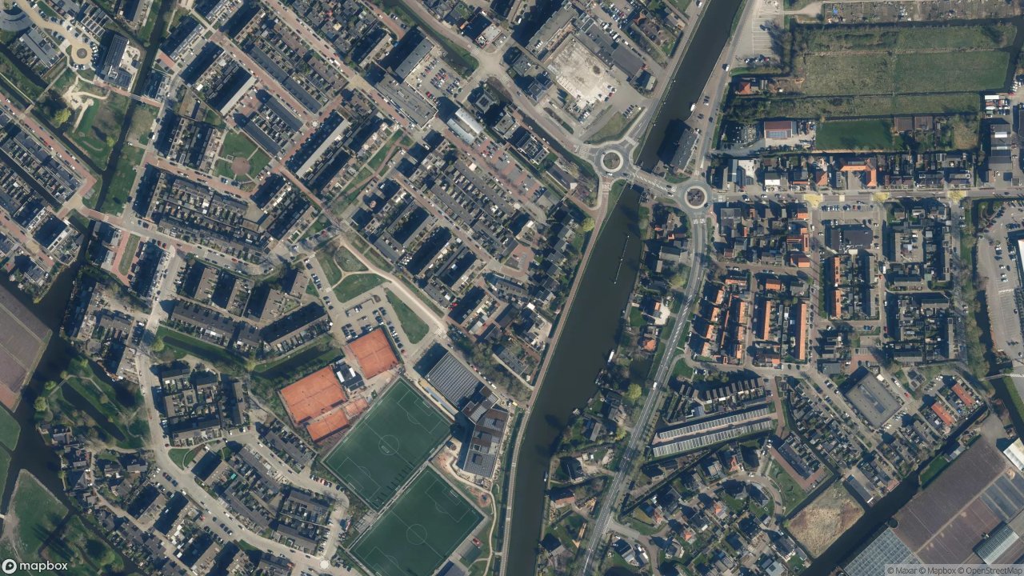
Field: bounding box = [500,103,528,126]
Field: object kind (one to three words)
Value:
house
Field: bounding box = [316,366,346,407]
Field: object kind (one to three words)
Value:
tennis court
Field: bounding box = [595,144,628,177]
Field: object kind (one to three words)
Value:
roundabout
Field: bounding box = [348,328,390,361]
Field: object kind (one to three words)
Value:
tennis court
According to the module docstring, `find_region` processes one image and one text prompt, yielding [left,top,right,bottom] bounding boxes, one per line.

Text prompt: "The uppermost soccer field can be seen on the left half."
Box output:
[324,378,454,510]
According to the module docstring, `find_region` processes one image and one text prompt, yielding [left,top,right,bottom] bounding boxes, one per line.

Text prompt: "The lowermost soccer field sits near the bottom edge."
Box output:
[349,465,485,576]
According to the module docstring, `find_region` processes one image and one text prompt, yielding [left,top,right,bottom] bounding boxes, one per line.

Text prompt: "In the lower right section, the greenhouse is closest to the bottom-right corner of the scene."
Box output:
[972,521,1019,564]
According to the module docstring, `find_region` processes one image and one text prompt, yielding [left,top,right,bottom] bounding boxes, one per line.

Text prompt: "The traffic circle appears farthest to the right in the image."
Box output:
[679,180,713,214]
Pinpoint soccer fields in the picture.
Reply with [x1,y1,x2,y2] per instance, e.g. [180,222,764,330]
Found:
[324,378,454,510]
[349,465,485,576]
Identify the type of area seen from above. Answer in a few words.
residential area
